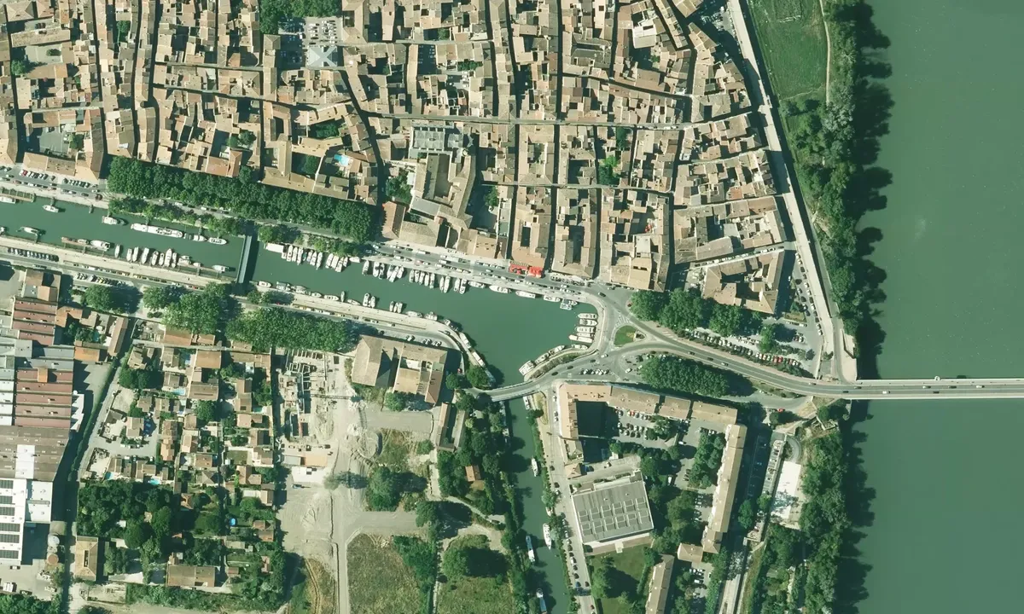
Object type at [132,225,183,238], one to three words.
boat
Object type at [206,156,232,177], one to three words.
house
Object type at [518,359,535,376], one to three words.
boat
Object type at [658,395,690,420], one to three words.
building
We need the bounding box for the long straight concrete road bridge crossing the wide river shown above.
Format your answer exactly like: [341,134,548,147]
[853,377,1024,399]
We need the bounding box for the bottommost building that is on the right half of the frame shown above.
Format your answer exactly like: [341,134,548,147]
[641,554,674,614]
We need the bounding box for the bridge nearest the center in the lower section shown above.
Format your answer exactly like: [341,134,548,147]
[488,373,540,404]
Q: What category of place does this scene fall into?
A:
residential area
